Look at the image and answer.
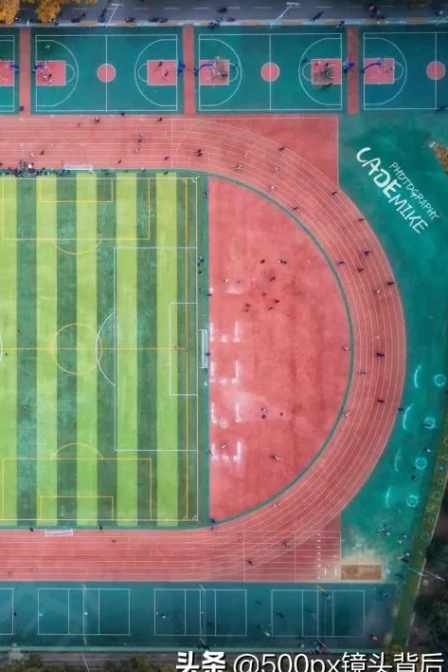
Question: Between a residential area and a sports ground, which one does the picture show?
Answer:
sports ground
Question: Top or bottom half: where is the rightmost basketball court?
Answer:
top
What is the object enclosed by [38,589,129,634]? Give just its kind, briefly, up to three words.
sports court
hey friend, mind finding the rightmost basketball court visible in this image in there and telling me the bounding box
[358,26,448,114]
